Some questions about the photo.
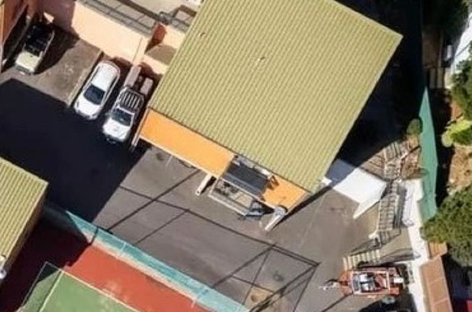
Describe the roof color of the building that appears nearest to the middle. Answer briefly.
yellow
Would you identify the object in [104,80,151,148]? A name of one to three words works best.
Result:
truck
